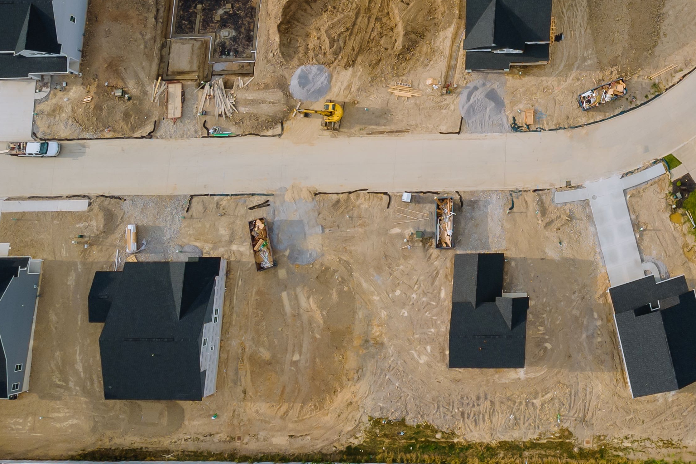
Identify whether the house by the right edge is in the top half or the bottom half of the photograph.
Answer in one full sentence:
The house by the right edge is in the bottom half of the image.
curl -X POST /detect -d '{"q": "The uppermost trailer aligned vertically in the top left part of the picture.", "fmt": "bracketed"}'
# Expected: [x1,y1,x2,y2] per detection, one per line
[161,78,185,125]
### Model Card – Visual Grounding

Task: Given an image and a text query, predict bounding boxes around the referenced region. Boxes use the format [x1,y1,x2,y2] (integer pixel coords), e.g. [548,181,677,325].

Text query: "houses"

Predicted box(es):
[0,257,43,398]
[85,257,232,401]
[0,0,88,80]
[463,0,553,72]
[608,275,696,398]
[449,253,529,368]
